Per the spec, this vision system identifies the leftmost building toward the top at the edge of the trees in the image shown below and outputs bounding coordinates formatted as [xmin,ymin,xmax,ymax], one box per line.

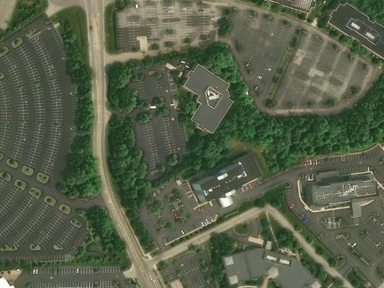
[179,64,234,133]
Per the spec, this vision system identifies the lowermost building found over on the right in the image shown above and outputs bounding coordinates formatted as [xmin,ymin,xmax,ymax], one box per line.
[220,241,322,288]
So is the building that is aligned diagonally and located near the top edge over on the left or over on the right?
right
